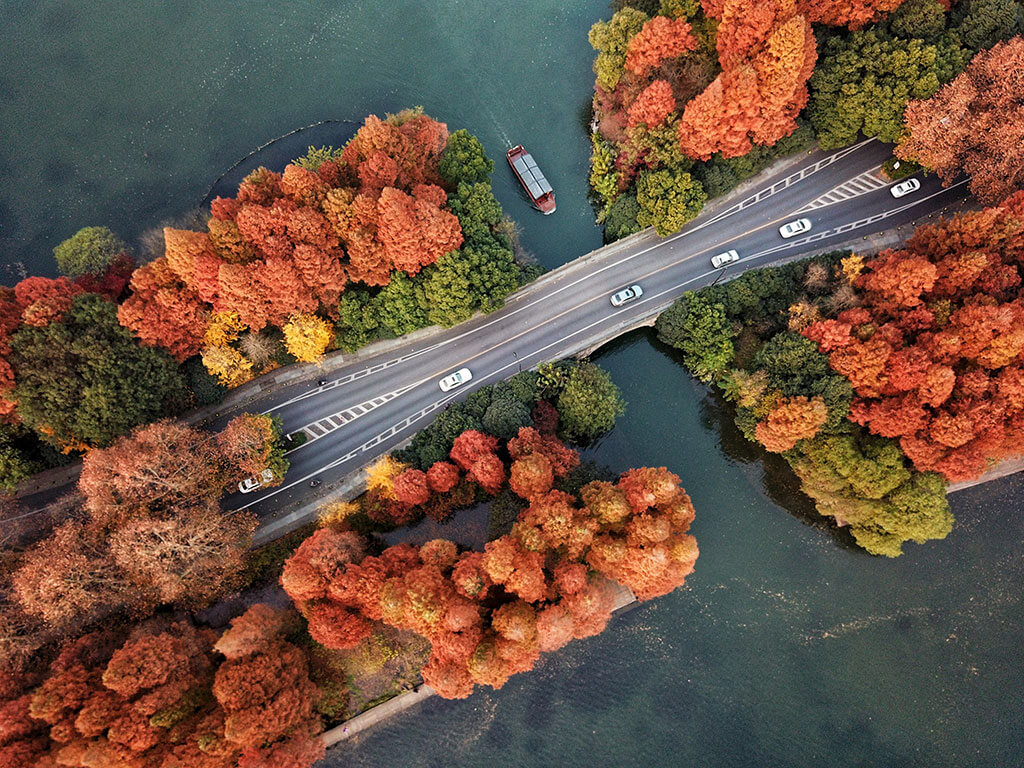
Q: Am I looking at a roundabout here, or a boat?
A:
boat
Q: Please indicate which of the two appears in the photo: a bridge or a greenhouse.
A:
bridge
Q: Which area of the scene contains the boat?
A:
top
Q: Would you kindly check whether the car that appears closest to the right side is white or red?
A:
white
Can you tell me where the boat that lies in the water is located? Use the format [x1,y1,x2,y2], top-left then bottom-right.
[505,143,553,215]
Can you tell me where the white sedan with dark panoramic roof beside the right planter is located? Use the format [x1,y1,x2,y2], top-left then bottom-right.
[891,175,924,197]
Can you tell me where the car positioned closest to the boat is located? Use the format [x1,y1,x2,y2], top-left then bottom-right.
[610,283,644,305]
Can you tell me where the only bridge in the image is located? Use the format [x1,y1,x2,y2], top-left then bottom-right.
[510,224,668,368]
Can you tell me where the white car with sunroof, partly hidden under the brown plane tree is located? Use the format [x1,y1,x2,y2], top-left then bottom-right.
[236,468,273,493]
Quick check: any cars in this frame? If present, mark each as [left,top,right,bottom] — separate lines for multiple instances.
[891,175,924,197]
[610,283,644,305]
[236,468,273,493]
[438,368,472,390]
[711,246,741,268]
[779,216,814,238]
